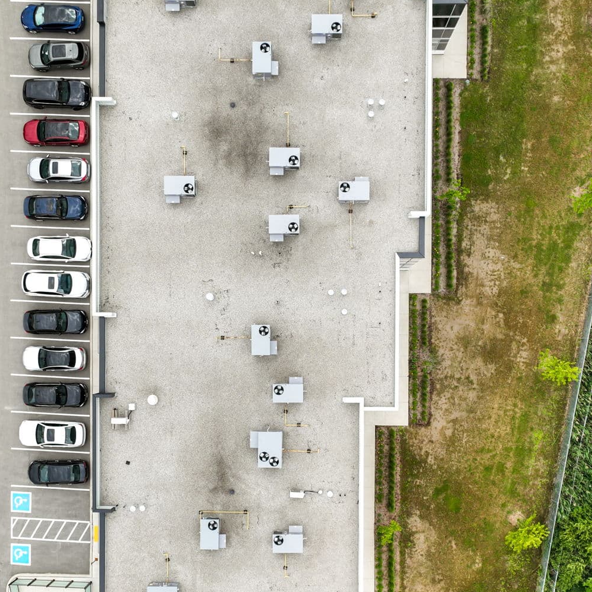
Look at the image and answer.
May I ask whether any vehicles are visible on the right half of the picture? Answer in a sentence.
No, on the right half of the picture there is no vehicle.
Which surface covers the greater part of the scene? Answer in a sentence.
What you mostly see from above here is buildings.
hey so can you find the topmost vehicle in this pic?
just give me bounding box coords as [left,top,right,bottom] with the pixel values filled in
[20,0,86,34]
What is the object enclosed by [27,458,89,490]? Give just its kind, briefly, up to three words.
car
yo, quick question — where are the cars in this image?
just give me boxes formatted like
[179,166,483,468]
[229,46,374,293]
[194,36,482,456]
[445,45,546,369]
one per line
[27,37,90,73]
[26,232,90,264]
[21,342,87,374]
[19,74,92,109]
[20,0,86,34]
[21,306,89,338]
[23,114,89,147]
[26,152,90,184]
[20,379,88,410]
[21,190,89,222]
[19,267,90,300]
[27,458,89,490]
[18,418,87,451]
